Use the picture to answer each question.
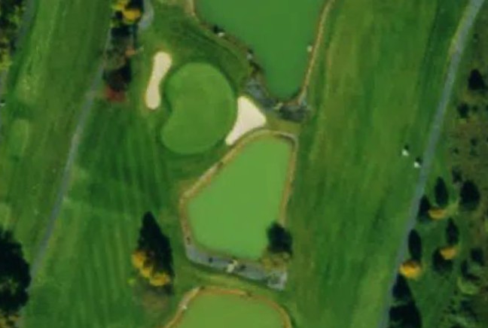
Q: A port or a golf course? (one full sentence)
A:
What you see here is a golf course.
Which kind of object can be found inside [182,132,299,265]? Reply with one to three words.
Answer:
pond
